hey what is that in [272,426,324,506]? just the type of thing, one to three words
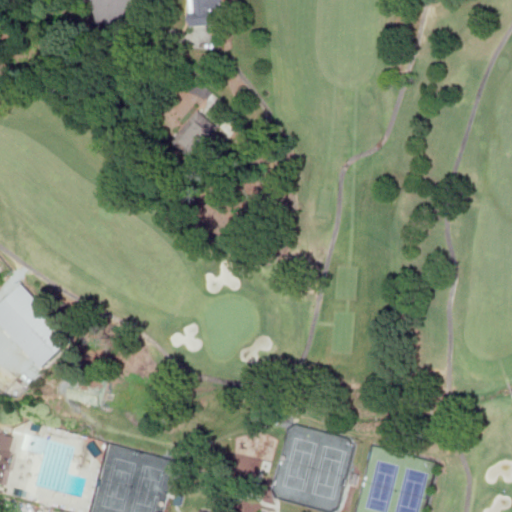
tennis court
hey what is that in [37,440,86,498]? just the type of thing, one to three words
swimming pool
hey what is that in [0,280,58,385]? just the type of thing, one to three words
building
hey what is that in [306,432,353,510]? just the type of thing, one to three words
tennis court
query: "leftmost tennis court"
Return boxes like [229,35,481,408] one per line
[91,444,142,512]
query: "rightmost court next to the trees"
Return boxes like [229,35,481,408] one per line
[392,454,435,512]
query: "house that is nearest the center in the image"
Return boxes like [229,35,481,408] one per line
[174,110,214,154]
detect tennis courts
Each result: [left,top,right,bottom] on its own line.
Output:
[91,444,142,512]
[126,452,172,512]
[392,454,435,512]
[306,432,353,510]
[357,446,406,512]
[272,426,324,506]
